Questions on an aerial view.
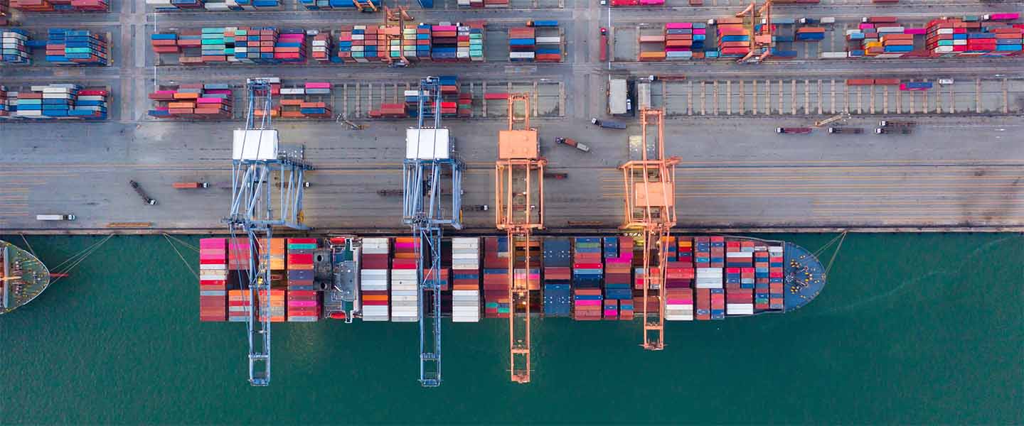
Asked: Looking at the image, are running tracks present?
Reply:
No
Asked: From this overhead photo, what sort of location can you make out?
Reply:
port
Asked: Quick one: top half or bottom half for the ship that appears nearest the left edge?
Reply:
bottom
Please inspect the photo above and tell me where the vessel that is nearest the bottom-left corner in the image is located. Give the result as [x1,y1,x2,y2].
[0,240,71,314]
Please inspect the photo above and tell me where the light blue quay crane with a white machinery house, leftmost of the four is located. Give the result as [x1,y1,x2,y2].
[224,78,321,387]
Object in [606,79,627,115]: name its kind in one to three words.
shed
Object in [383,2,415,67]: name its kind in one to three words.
crane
